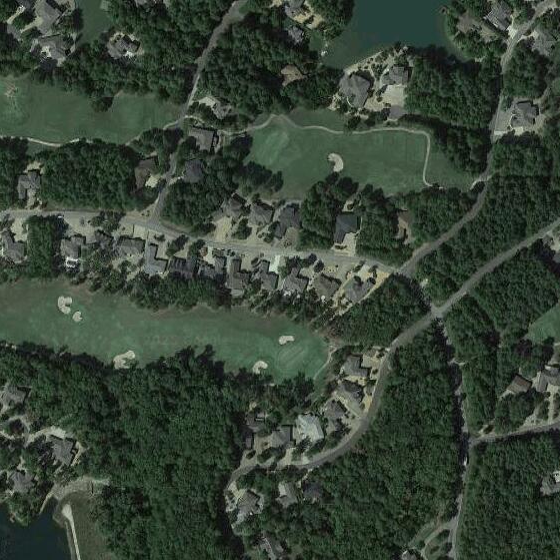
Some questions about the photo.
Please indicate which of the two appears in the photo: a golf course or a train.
golf course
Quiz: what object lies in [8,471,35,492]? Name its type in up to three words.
house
